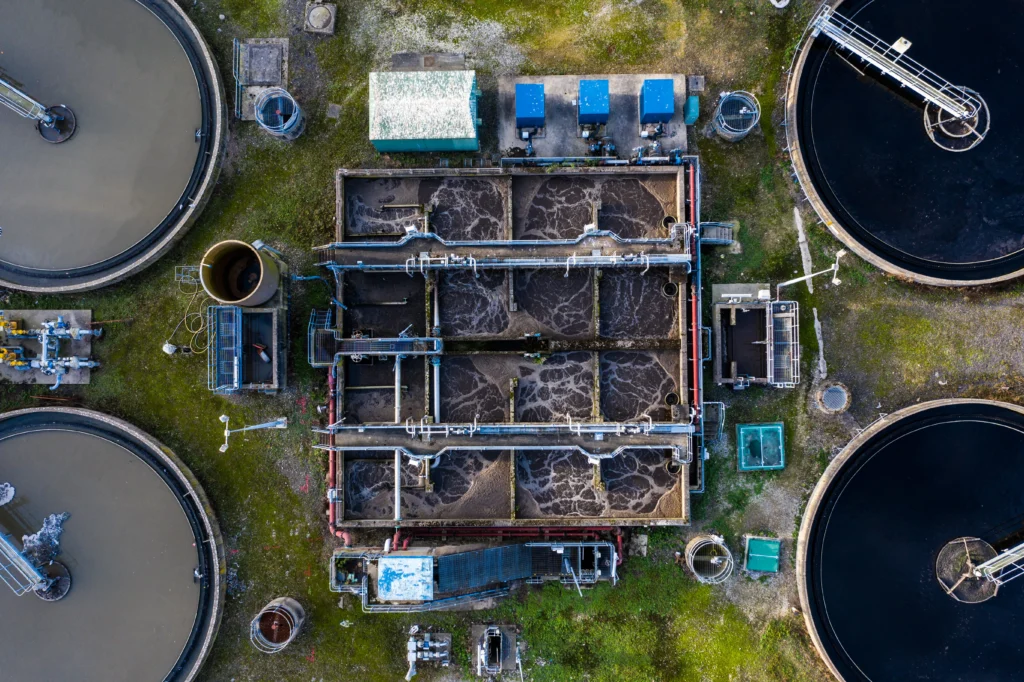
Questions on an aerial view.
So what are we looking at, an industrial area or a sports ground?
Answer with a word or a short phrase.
industrial area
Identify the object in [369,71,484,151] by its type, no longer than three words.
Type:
shed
